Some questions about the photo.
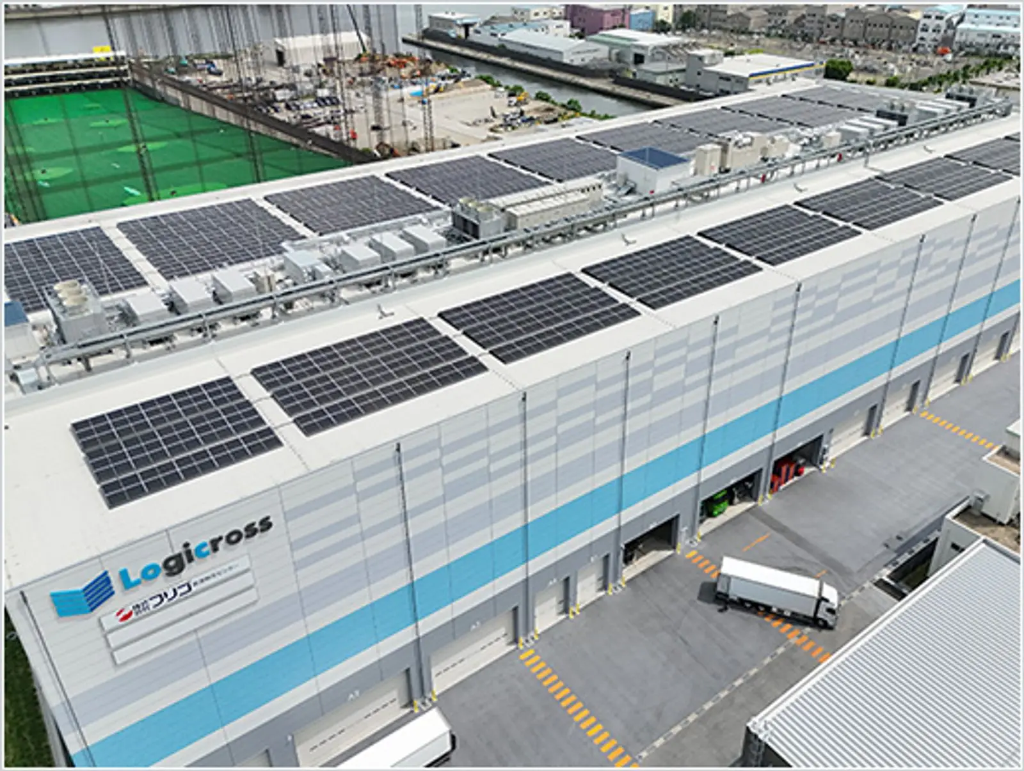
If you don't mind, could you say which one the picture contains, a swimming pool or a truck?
truck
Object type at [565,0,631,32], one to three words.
building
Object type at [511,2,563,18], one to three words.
building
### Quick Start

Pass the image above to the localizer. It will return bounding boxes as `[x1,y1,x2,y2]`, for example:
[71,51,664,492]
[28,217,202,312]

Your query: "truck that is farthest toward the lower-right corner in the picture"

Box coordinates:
[715,557,841,632]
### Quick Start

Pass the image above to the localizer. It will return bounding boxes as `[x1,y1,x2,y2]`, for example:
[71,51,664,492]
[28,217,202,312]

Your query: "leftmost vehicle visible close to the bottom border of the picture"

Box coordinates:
[332,705,463,771]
